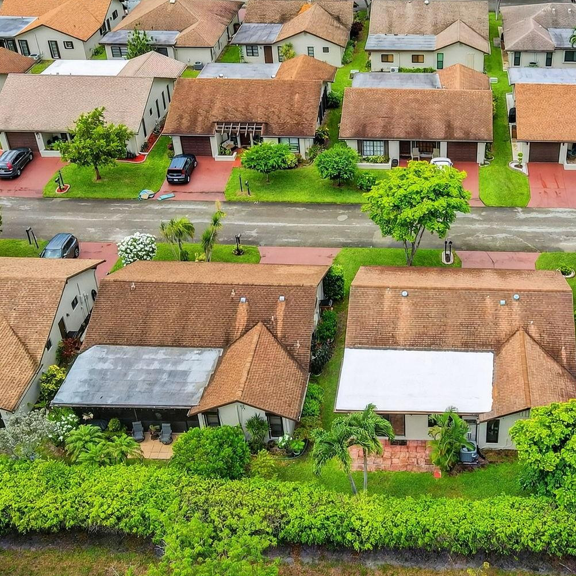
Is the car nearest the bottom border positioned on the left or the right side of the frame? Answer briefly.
left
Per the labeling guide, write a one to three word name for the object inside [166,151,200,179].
car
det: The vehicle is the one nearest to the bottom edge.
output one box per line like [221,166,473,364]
[39,232,85,260]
